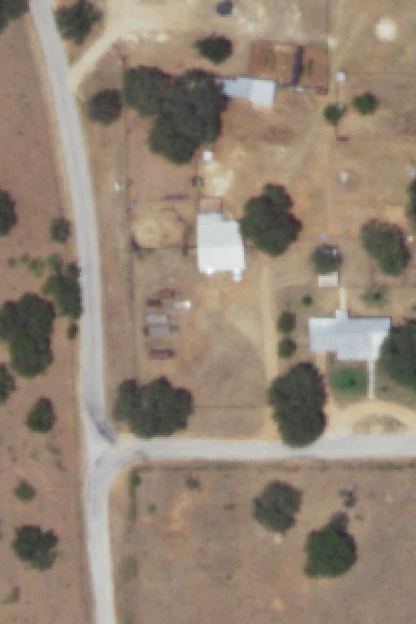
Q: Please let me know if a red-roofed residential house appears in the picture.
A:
No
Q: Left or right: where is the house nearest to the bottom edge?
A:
right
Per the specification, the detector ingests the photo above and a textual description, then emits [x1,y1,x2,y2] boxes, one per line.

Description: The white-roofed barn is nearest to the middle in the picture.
[196,213,244,275]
